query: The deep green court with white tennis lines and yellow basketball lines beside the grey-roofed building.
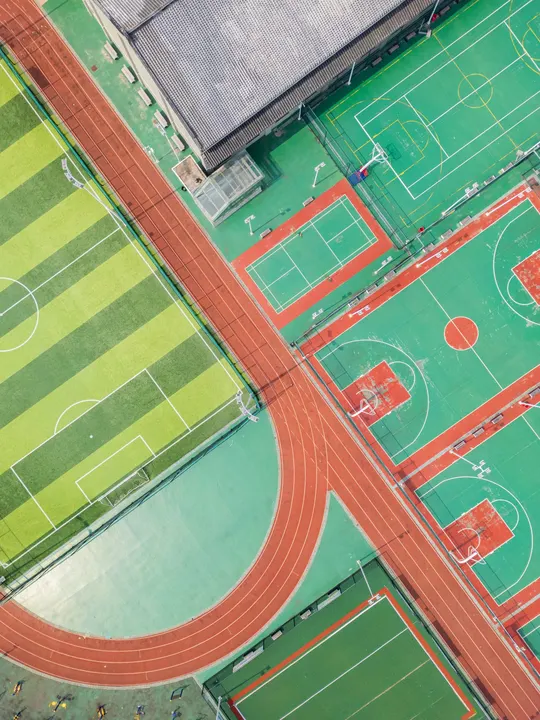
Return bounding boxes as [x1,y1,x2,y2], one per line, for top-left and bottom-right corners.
[303,0,540,249]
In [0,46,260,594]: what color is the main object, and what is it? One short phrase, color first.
green soccer field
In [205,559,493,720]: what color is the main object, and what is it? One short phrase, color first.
green sports court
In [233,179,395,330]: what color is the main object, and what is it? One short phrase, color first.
green sports court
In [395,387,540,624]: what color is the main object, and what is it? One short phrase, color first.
green basketball court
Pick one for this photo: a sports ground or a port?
sports ground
